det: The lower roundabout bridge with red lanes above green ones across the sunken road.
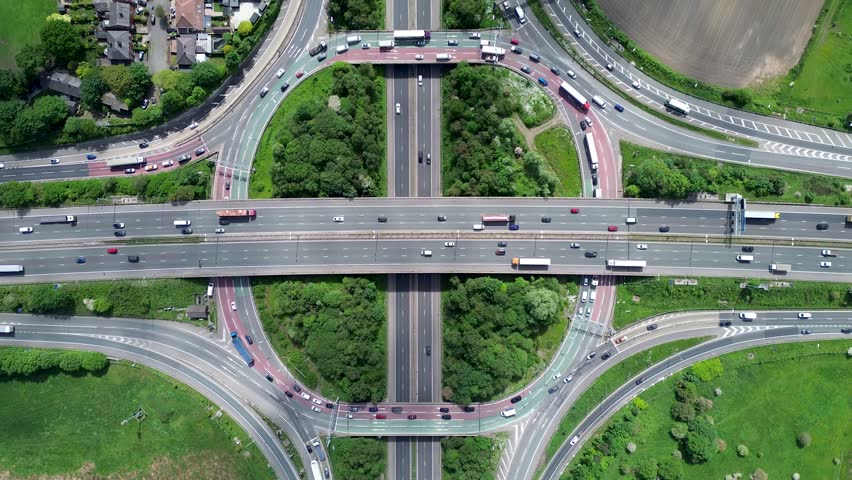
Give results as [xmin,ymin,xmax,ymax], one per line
[353,402,476,438]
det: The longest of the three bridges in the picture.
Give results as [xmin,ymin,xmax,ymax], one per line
[185,196,646,277]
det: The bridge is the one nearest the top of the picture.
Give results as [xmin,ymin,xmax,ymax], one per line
[349,30,478,66]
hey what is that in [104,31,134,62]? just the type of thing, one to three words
house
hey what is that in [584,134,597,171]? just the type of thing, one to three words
vehicle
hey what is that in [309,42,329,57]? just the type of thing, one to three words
vehicle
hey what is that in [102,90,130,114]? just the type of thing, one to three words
house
